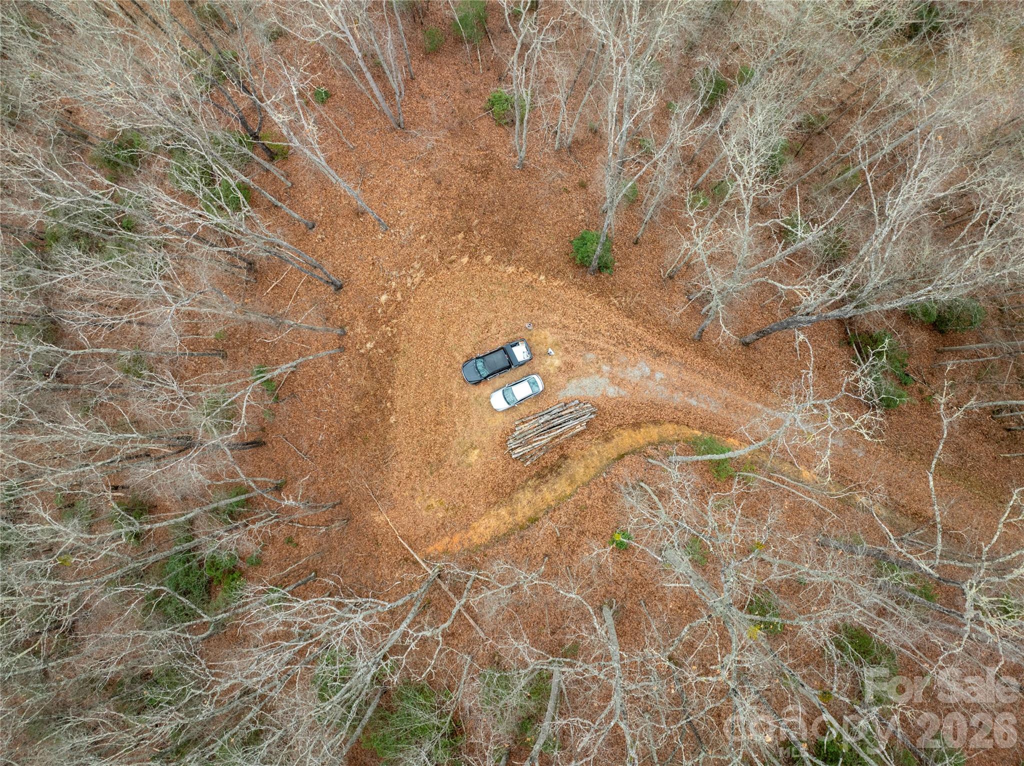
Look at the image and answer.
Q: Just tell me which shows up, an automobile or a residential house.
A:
automobile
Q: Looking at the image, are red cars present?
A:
No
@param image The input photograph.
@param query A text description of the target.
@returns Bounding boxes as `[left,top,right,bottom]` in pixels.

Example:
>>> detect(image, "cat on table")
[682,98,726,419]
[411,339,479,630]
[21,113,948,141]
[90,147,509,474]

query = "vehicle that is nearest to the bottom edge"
[489,375,546,413]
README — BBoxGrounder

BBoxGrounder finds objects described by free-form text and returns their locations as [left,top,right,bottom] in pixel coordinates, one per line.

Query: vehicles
[489,375,546,413]
[461,338,535,387]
